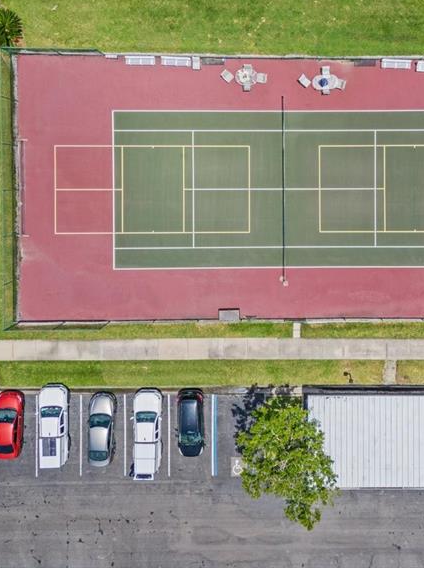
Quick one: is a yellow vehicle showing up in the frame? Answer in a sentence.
No, no yellow vehicle is visible in the view.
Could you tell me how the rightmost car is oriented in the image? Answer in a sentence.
The rightmost car is oriented vertically.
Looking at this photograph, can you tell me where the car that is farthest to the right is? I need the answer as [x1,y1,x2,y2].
[174,388,207,455]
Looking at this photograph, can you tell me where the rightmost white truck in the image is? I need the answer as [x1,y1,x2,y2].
[128,388,165,479]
